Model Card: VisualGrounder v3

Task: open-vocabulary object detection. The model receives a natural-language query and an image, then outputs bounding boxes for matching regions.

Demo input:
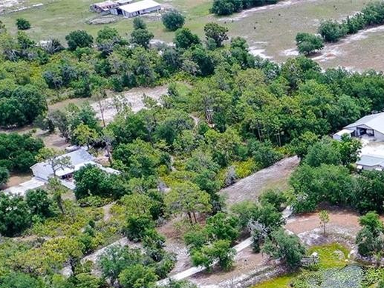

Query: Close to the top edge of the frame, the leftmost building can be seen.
[78,1,119,14]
